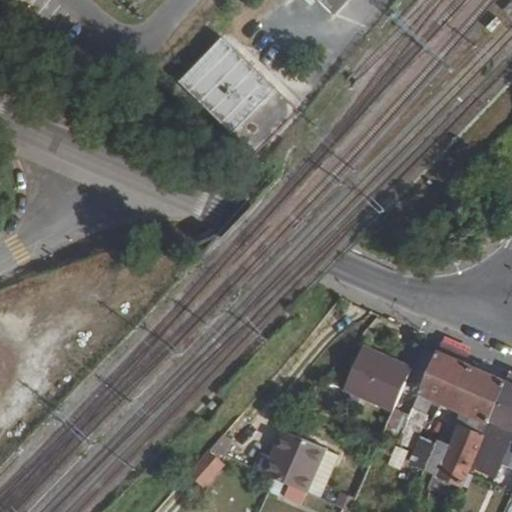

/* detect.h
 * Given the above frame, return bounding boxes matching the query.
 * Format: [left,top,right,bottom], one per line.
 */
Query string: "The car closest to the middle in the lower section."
[336,316,352,331]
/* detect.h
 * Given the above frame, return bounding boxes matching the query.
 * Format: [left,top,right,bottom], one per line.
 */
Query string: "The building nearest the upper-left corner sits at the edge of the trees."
[179,38,275,130]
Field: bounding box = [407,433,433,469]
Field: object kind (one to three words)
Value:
shed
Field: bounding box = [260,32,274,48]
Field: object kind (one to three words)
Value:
car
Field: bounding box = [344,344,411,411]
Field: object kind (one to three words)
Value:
house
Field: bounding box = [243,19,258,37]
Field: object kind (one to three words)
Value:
car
